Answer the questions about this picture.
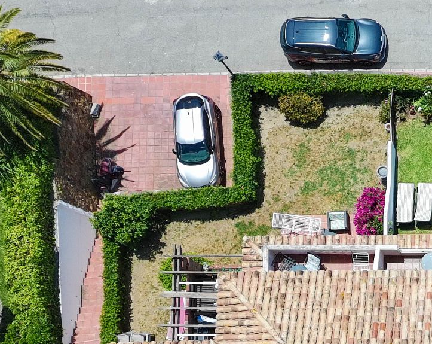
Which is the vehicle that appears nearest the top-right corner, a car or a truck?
car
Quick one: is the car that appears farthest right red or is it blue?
blue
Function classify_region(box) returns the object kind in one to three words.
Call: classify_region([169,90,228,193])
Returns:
car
